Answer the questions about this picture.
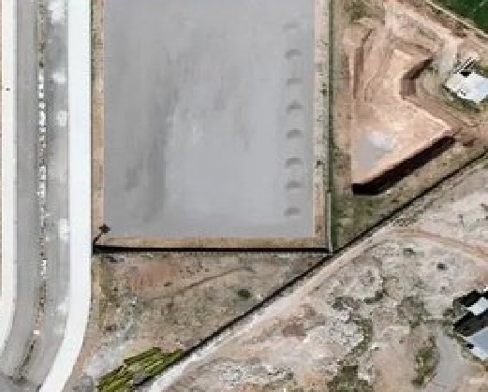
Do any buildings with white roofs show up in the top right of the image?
Yes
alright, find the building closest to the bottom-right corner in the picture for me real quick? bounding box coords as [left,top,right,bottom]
[454,324,488,362]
